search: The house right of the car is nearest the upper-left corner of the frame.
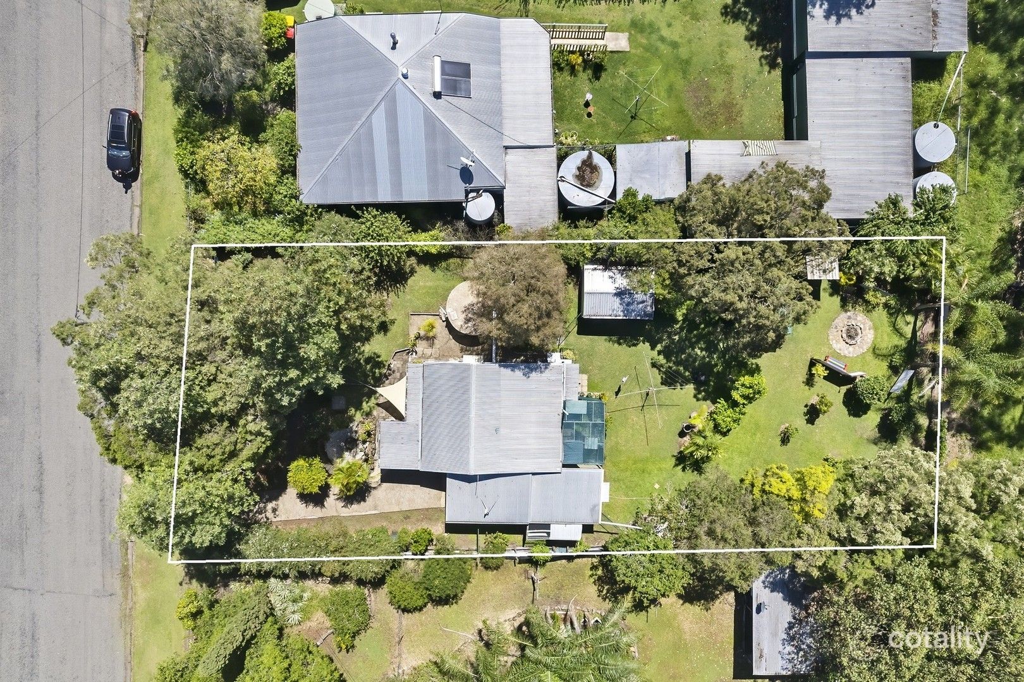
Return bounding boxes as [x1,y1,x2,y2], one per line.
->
[295,10,558,231]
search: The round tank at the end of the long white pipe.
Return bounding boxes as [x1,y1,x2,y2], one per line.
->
[913,122,956,171]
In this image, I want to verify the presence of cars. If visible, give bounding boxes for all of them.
[104,108,143,175]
